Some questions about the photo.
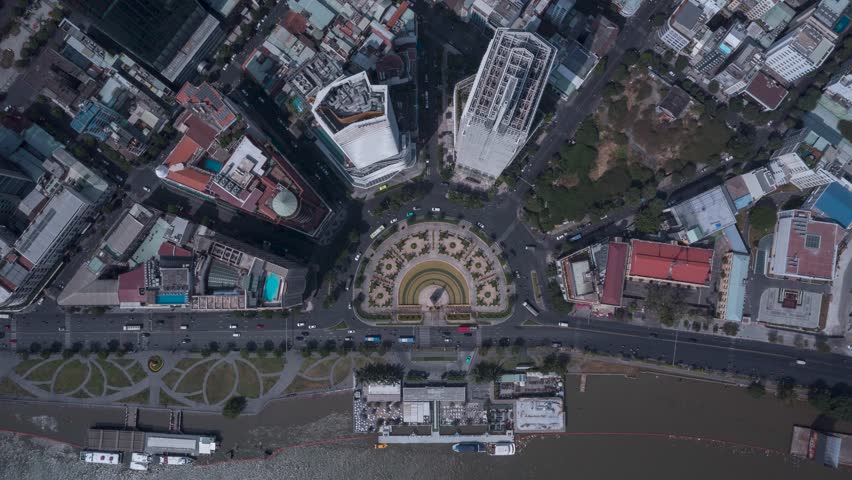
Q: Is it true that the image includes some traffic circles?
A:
Yes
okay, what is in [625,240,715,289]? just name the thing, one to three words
building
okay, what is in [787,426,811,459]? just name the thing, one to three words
pier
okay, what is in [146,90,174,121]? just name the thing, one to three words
house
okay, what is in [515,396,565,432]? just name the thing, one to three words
building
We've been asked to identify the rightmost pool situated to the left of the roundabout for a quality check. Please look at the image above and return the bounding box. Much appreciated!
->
[265,273,280,301]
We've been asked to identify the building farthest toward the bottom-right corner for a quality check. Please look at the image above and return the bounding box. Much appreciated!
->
[807,430,841,468]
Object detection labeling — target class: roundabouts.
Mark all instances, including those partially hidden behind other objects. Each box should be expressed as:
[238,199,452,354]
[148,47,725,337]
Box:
[354,218,512,325]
